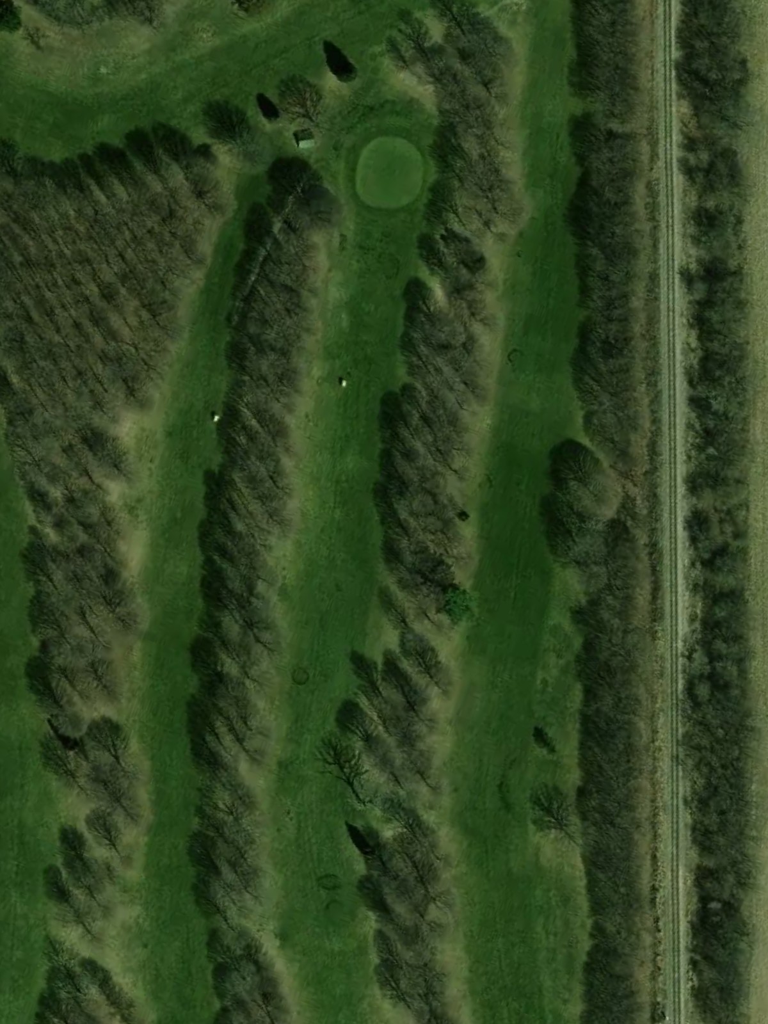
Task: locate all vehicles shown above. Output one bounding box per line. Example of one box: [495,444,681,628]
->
[341,379,346,387]
[213,413,220,421]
